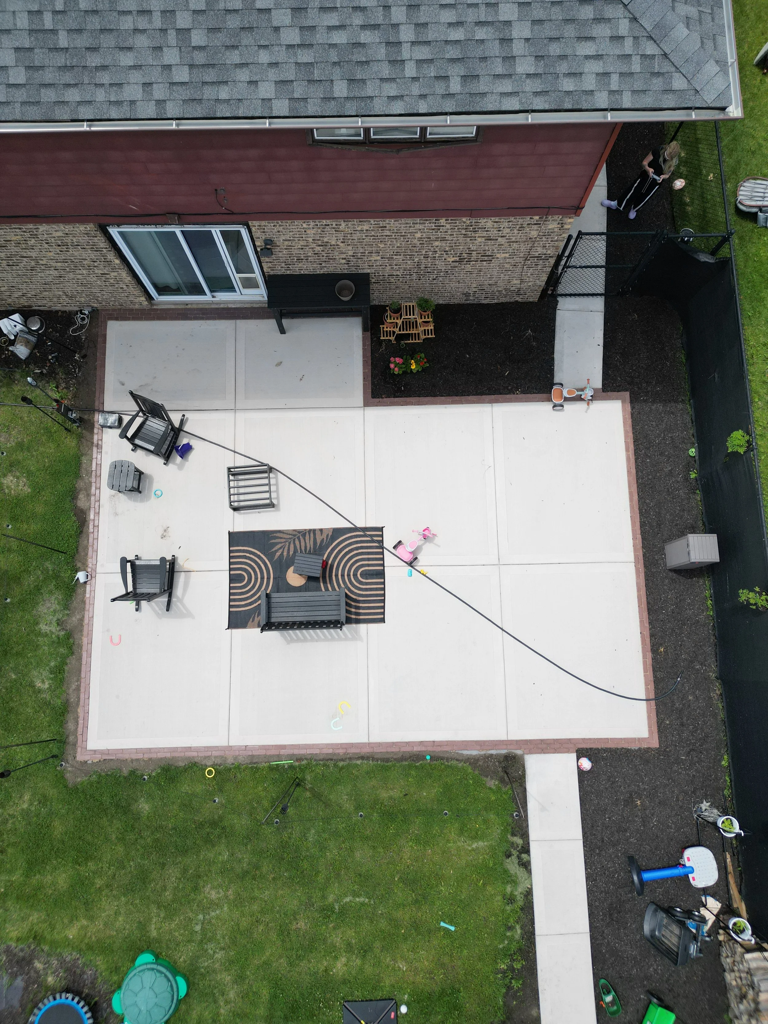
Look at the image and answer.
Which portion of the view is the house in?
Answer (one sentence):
The house is in the top part of the image.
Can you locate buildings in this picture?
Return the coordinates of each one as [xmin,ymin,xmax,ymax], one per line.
[0,0,745,314]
